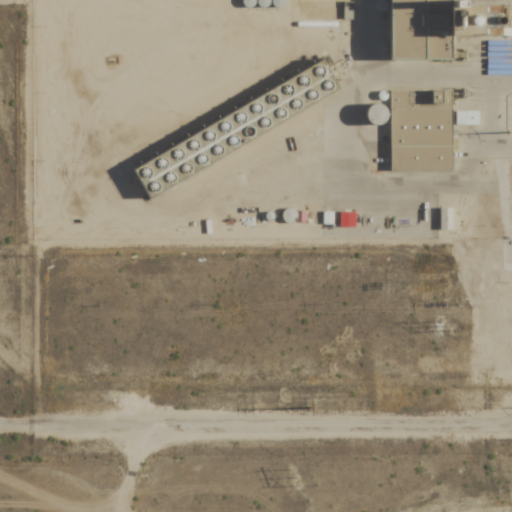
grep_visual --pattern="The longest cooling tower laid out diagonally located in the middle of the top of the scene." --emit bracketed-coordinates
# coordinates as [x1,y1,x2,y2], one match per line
[132,57,342,200]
